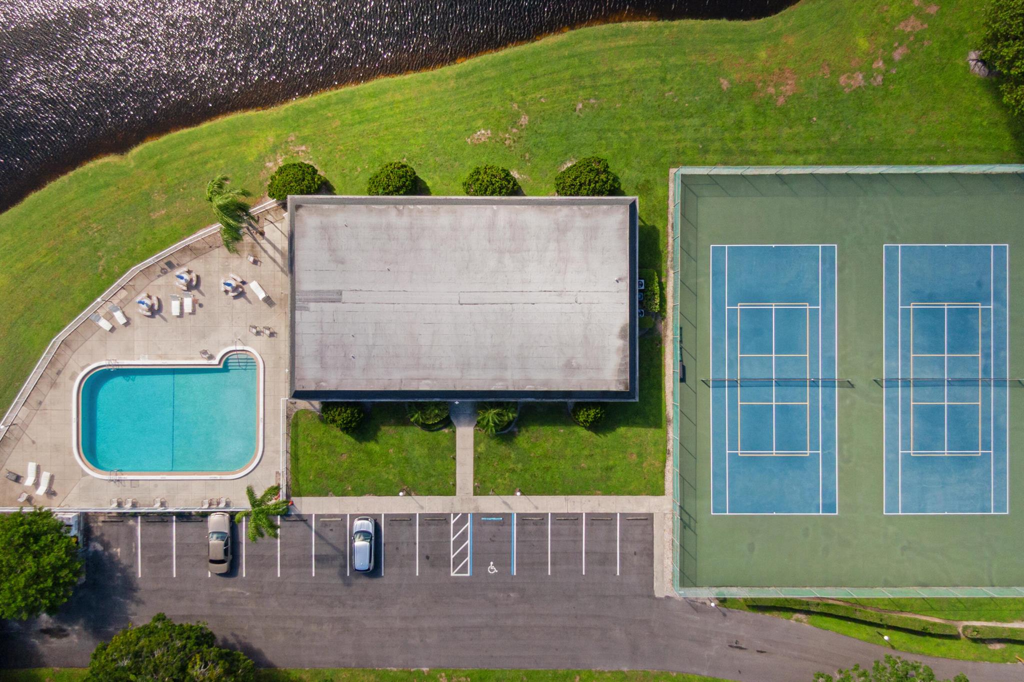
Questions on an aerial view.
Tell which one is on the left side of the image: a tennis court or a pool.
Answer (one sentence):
The one visible on the left side of the image is a pool.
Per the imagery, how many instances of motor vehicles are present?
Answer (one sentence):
The number of motor vehicles here is 2.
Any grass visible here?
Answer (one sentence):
Yes, there is grass in the image.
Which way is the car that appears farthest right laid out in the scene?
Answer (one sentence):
In this picture, the car that appears farthest right lies from top to bottom.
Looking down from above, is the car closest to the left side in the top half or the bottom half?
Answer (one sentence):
The bottom half of the photo is where the car closest to the left side is.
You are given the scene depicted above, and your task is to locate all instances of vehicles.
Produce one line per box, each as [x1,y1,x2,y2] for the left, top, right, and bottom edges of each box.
[205,514,232,574]
[350,516,377,573]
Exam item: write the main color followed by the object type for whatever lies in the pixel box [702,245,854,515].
blue tennis court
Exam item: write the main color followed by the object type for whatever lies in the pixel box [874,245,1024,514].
blue tennis court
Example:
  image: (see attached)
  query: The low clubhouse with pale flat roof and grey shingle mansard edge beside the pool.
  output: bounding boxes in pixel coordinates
[288,195,639,401]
